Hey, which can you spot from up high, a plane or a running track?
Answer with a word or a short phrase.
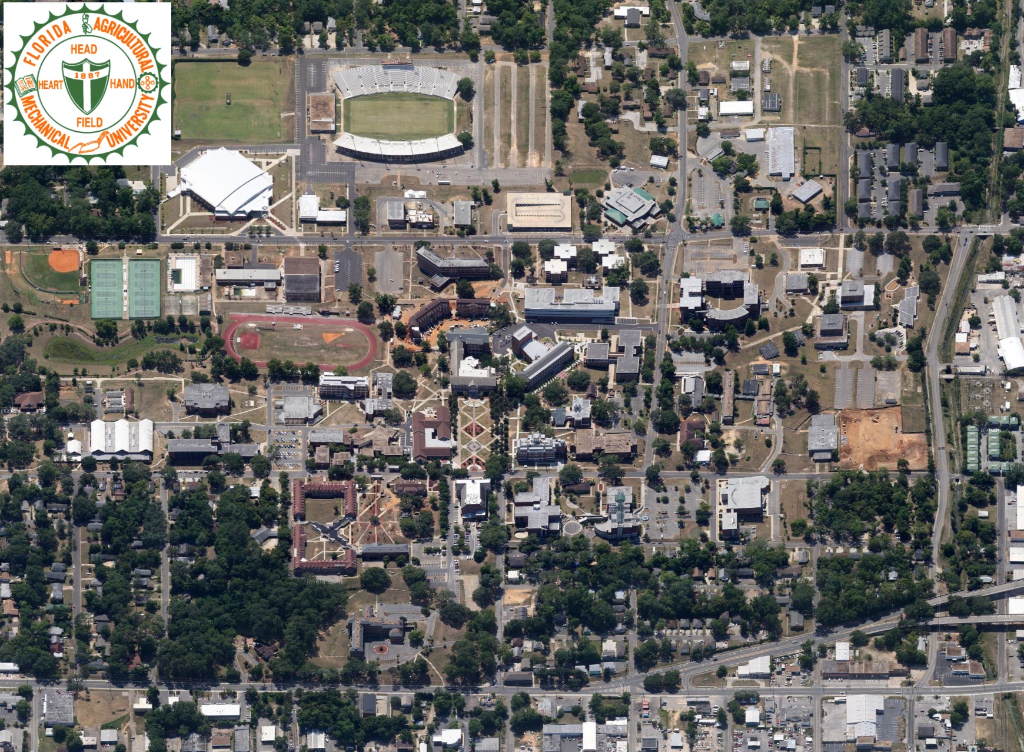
running track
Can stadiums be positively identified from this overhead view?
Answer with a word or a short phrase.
Yes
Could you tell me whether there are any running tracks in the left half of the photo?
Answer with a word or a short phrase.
Yes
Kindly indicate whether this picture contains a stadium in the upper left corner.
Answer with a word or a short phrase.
Yes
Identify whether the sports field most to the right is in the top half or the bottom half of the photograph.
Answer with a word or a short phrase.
top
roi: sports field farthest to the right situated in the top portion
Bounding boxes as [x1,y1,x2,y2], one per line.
[343,92,454,141]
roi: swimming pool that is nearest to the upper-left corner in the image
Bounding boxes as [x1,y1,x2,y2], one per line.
[167,254,200,291]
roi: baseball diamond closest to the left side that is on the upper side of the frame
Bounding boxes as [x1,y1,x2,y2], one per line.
[19,249,82,294]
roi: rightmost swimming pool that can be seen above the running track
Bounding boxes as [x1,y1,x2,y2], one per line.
[224,286,285,300]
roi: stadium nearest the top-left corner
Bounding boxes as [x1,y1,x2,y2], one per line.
[168,147,273,222]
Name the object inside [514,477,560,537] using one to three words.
building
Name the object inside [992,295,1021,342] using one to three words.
building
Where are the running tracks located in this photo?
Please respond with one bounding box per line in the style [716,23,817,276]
[223,314,376,371]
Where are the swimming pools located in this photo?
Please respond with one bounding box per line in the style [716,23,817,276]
[224,286,285,300]
[167,254,200,291]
